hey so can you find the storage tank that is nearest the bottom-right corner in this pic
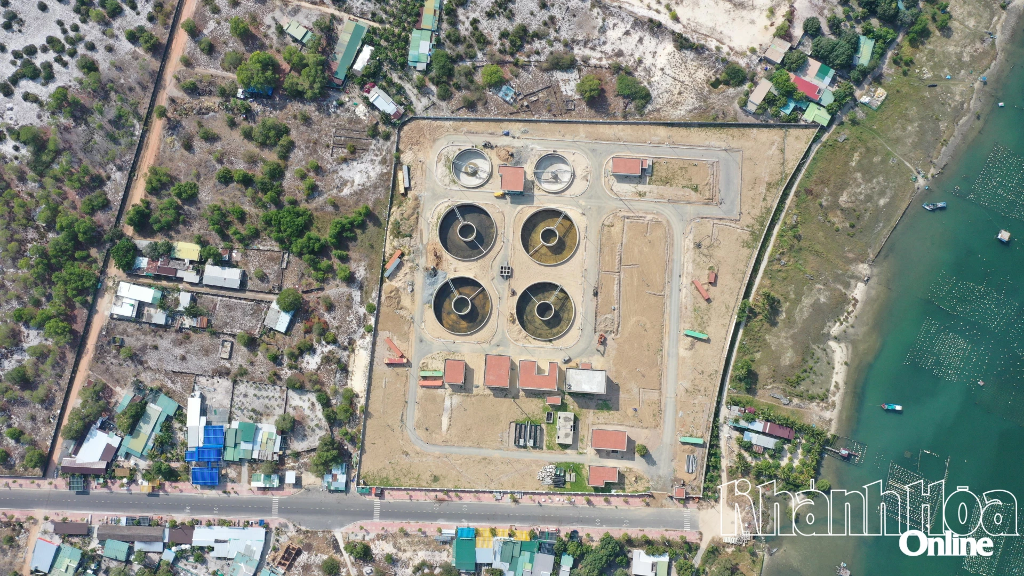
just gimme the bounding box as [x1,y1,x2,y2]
[516,282,575,340]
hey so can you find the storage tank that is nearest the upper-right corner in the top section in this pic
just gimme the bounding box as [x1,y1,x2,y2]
[534,154,573,193]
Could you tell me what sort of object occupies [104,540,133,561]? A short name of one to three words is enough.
house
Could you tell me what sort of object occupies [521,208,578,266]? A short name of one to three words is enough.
storage tank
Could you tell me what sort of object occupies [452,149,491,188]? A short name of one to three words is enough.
storage tank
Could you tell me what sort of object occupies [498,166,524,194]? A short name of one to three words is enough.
building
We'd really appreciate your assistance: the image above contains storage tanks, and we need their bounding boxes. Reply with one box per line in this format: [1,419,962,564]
[516,282,575,340]
[452,149,491,188]
[432,276,491,335]
[521,208,578,266]
[534,154,573,193]
[439,204,497,260]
